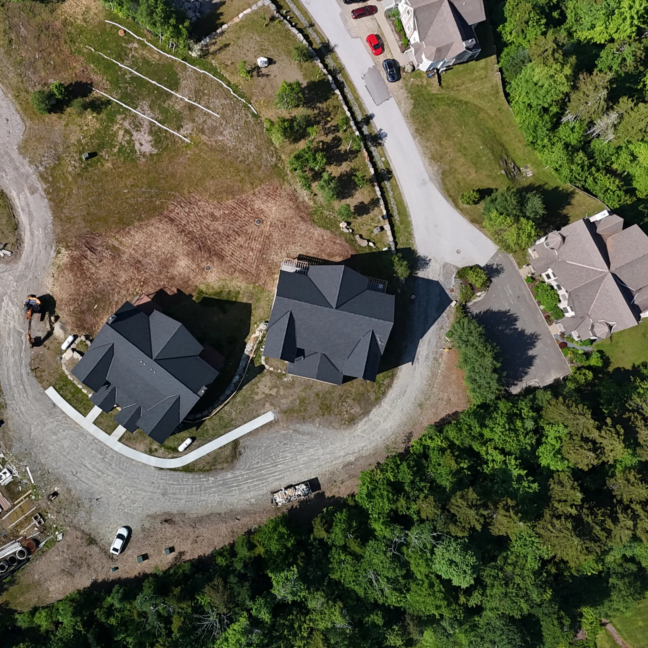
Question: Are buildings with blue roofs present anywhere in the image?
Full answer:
No, there is no building with a blue roof in the image.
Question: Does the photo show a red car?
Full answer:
Yes, the image includes a red car.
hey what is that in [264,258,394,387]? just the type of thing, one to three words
house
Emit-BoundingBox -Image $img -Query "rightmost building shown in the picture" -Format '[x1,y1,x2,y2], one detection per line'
[519,210,648,340]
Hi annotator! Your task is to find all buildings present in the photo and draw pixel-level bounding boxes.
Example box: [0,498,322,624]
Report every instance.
[519,210,648,340]
[380,0,486,73]
[264,258,394,387]
[71,292,226,444]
